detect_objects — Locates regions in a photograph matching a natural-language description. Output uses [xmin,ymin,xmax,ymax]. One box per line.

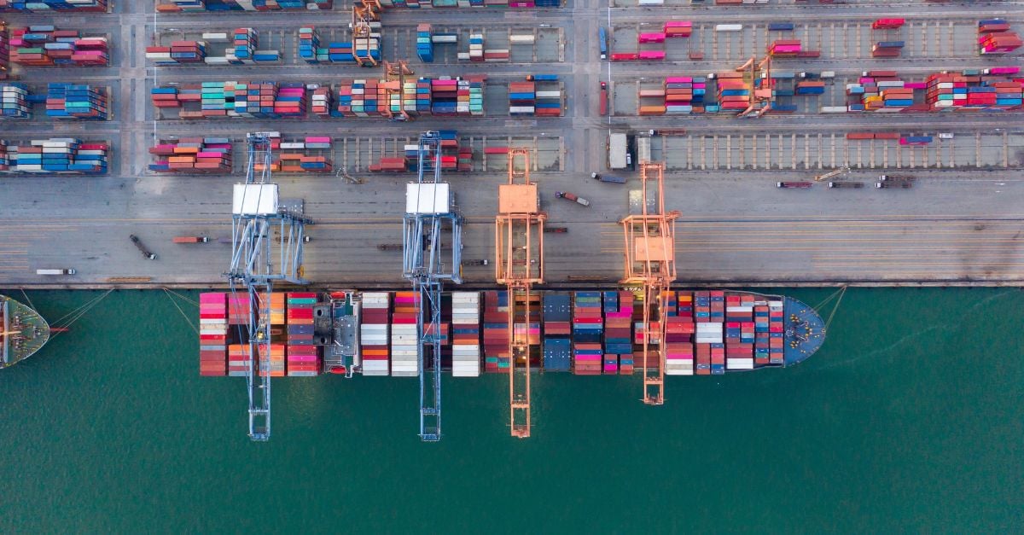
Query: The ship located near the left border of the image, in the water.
[0,295,67,367]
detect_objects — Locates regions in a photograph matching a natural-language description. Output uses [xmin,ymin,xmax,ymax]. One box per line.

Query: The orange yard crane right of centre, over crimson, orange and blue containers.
[737,57,770,118]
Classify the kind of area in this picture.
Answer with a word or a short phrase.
port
